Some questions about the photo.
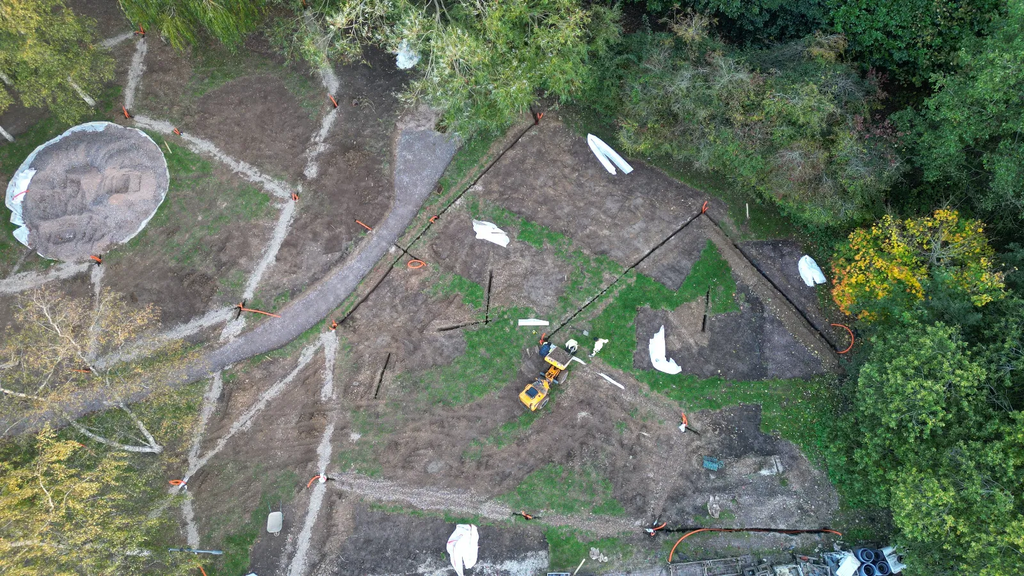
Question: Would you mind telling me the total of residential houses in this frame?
0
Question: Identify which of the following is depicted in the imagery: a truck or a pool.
truck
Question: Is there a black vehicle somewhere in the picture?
No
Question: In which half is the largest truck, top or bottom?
bottom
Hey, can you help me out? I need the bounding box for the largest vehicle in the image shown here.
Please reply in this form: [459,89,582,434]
[515,343,573,411]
